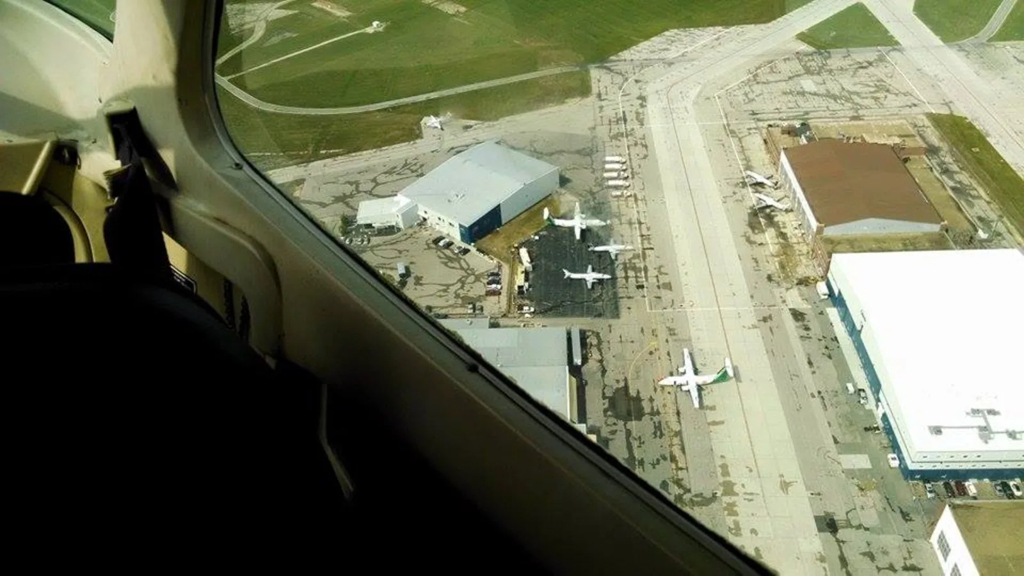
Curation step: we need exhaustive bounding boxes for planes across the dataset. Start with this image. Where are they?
[745,169,776,188]
[545,202,606,239]
[427,115,449,128]
[587,236,636,263]
[561,262,611,291]
[753,191,785,210]
[660,348,736,407]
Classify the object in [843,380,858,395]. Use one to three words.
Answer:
vehicle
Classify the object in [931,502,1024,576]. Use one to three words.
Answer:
hangar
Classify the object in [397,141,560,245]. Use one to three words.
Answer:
hangar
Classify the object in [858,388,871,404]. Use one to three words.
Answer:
vehicle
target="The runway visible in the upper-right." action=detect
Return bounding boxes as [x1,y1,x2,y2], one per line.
[861,0,1024,182]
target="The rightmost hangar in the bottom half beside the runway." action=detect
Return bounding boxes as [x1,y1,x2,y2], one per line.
[824,250,1024,484]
